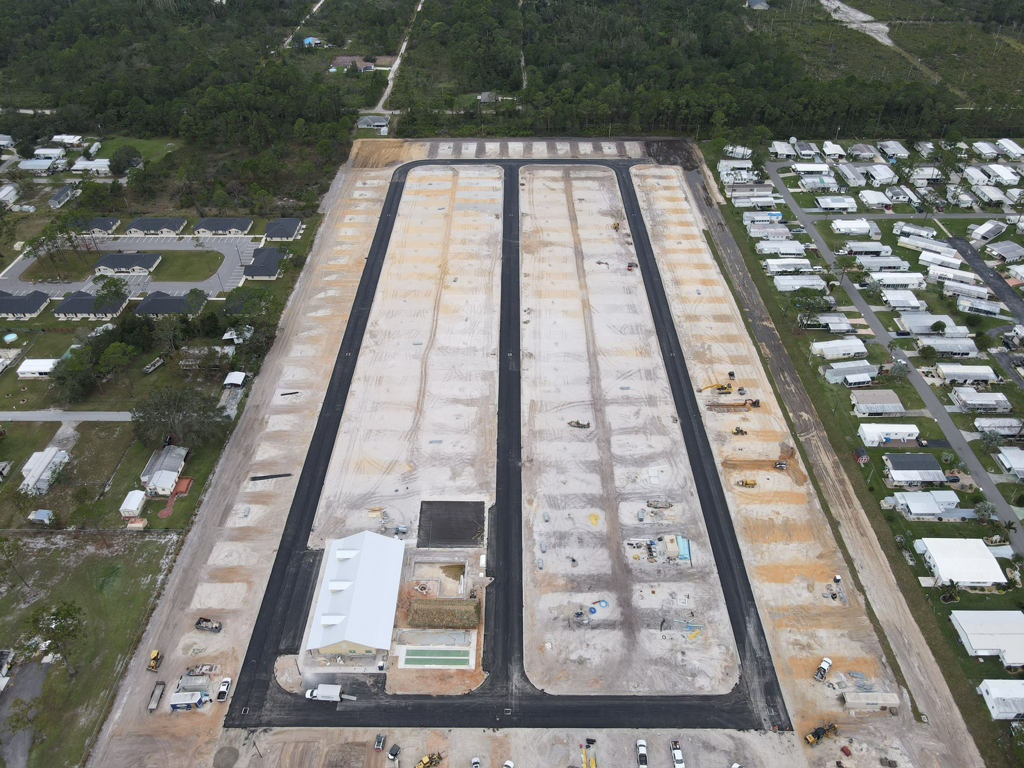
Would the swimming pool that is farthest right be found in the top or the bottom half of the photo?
bottom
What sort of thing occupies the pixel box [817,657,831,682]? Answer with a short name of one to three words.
vehicle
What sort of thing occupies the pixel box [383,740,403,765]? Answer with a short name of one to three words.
car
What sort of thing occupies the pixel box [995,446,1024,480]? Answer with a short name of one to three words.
house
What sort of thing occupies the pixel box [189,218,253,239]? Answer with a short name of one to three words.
building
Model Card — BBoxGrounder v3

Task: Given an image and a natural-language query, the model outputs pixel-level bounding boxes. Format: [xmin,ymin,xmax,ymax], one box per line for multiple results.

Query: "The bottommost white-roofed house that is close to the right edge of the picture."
[979,679,1024,719]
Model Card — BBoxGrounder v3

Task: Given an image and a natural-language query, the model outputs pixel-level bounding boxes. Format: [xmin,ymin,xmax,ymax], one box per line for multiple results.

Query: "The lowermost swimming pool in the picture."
[410,560,466,597]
